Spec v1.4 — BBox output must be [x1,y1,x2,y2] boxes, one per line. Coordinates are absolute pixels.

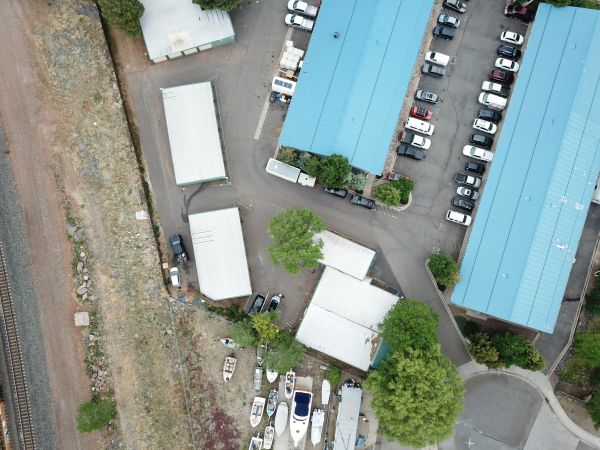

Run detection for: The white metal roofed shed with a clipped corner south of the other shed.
[188,207,254,301]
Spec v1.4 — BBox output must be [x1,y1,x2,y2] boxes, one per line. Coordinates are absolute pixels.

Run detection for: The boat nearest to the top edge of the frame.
[265,294,281,315]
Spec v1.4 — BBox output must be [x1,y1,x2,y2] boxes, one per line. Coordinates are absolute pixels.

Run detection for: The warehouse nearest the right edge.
[451,3,600,335]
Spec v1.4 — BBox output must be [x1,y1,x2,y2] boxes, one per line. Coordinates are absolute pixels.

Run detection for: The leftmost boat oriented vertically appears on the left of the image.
[224,352,237,380]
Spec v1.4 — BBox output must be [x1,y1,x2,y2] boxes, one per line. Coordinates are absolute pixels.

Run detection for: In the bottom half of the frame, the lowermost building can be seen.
[296,265,400,373]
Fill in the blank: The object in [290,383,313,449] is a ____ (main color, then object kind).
white boat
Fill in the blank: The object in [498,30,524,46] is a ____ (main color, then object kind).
white car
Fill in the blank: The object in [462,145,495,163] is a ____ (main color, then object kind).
white vehicle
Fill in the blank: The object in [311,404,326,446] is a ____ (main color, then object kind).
white boat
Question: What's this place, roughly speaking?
industrial area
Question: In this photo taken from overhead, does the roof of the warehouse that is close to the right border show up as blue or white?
blue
